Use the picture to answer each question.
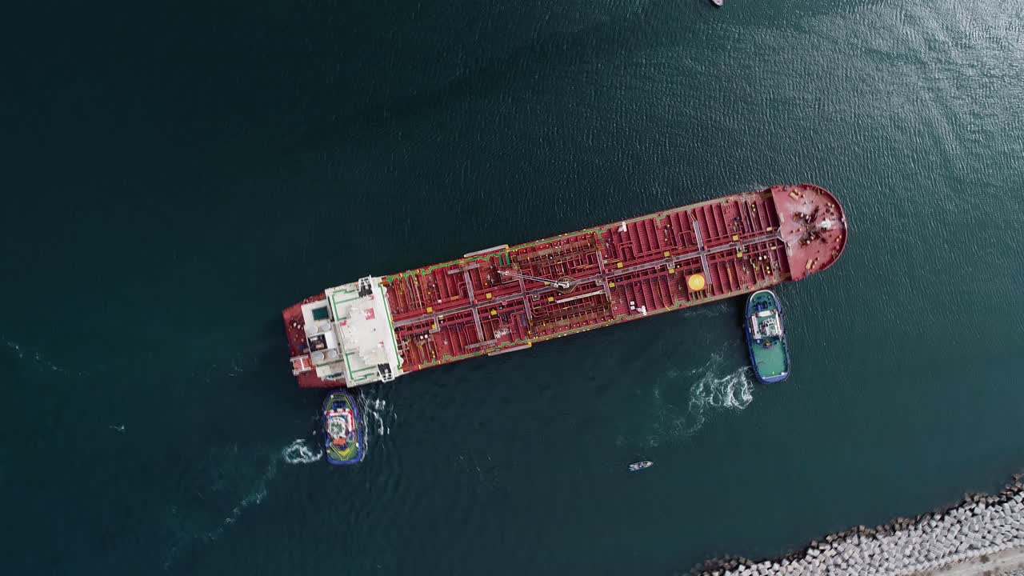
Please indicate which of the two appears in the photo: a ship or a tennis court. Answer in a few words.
ship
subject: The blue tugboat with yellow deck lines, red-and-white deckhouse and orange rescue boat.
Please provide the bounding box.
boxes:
[322,388,366,466]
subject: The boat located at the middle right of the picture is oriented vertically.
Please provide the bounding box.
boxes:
[744,291,791,384]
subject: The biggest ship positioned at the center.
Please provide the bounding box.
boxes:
[284,184,846,390]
